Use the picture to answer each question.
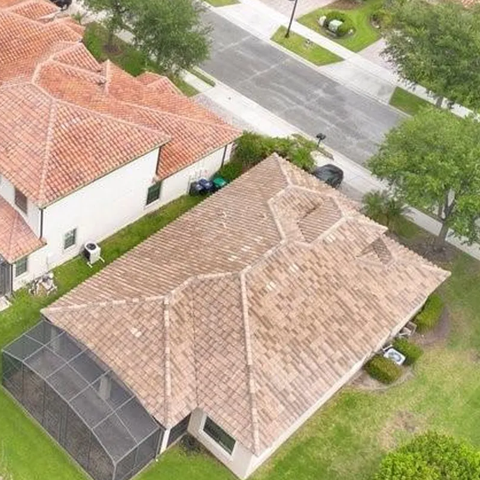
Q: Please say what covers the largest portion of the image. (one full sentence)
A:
Most of the picture is covered by buildings.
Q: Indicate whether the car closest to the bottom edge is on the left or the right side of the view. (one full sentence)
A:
You can find the car closest to the bottom edge on the right side of the picture.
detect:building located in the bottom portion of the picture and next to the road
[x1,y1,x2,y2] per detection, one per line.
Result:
[36,155,451,474]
